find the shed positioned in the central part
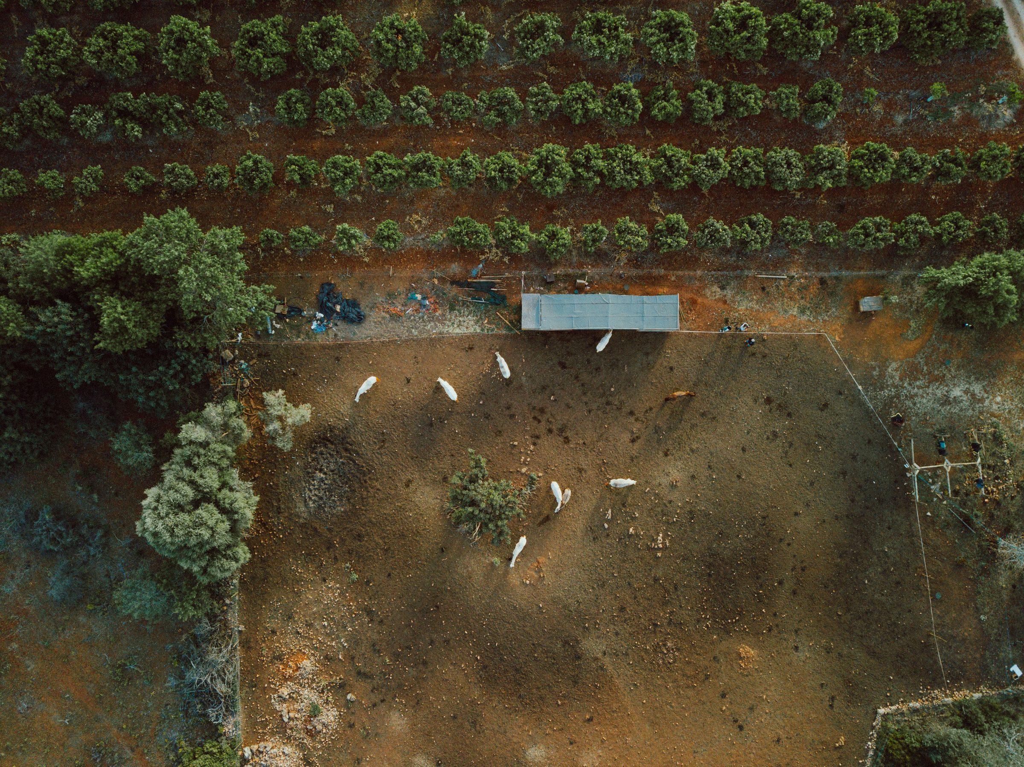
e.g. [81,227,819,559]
[522,293,679,333]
